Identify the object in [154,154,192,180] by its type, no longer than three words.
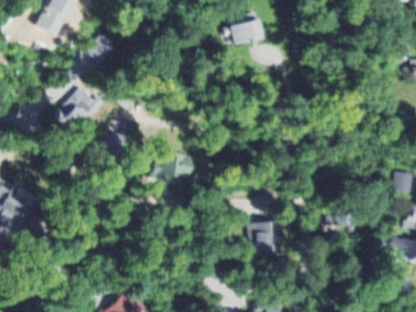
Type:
house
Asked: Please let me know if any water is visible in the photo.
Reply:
No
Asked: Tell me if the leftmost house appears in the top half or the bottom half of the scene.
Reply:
bottom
